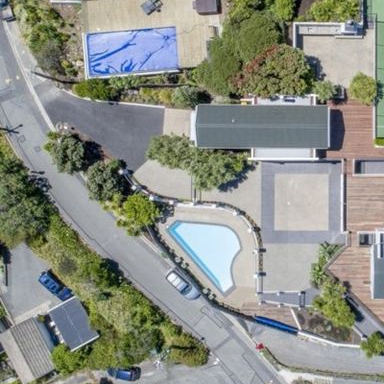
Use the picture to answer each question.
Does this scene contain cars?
Yes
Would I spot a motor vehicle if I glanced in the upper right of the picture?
No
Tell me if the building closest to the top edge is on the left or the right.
right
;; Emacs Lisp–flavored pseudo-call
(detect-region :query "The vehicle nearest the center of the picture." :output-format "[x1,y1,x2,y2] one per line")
[164,265,202,301]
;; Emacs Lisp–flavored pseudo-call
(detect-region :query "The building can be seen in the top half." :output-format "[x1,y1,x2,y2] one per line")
[195,92,330,160]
